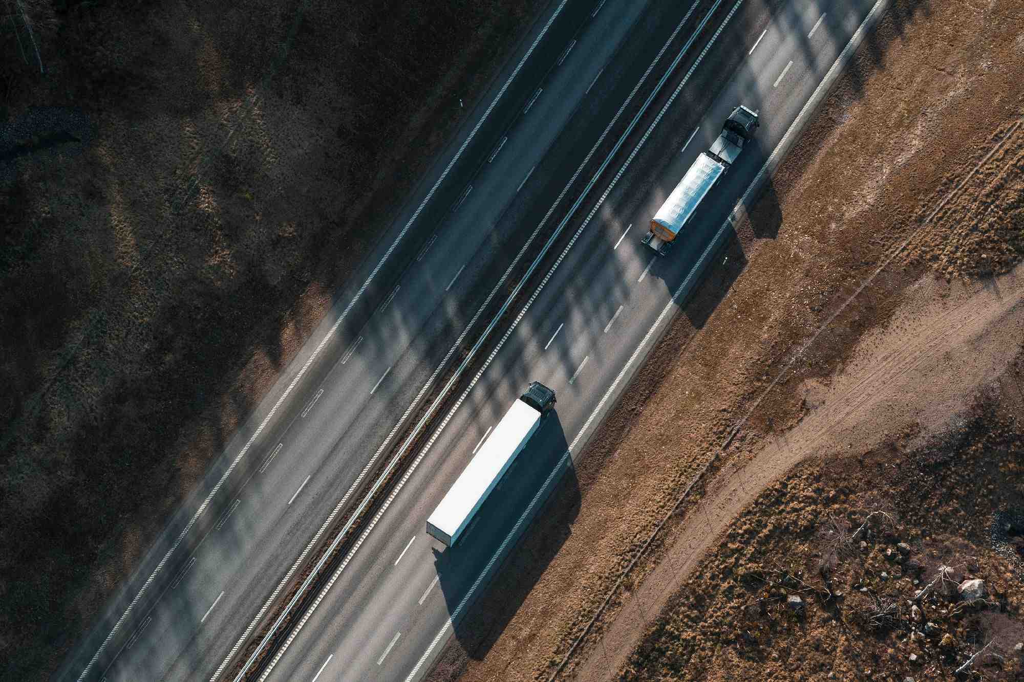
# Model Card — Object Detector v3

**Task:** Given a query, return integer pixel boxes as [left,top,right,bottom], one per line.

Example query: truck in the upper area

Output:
[642,108,760,258]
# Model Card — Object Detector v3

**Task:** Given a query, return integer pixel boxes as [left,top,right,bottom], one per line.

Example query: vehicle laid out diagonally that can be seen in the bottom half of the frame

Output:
[426,379,560,550]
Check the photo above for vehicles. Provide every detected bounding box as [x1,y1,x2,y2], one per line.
[426,379,560,550]
[642,108,760,258]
